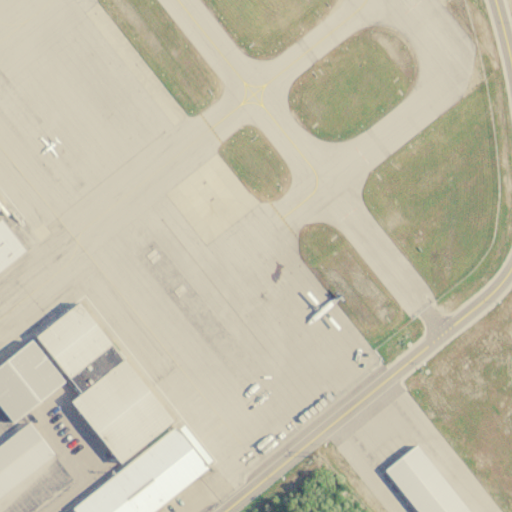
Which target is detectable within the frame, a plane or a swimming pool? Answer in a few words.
plane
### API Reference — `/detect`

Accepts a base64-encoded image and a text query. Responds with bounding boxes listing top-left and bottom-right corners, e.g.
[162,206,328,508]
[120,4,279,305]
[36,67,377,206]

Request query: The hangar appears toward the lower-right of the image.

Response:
[386,446,469,512]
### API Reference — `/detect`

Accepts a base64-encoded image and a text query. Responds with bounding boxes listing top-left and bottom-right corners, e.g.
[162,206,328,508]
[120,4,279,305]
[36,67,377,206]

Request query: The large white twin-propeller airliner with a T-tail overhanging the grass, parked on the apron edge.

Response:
[310,292,348,332]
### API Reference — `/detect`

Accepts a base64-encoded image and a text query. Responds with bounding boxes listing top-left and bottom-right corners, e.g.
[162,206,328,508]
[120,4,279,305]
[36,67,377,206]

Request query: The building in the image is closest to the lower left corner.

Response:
[0,424,56,500]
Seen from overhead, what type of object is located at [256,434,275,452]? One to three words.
vehicle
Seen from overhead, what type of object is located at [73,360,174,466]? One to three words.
hangar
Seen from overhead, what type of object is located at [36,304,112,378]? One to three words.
hangar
